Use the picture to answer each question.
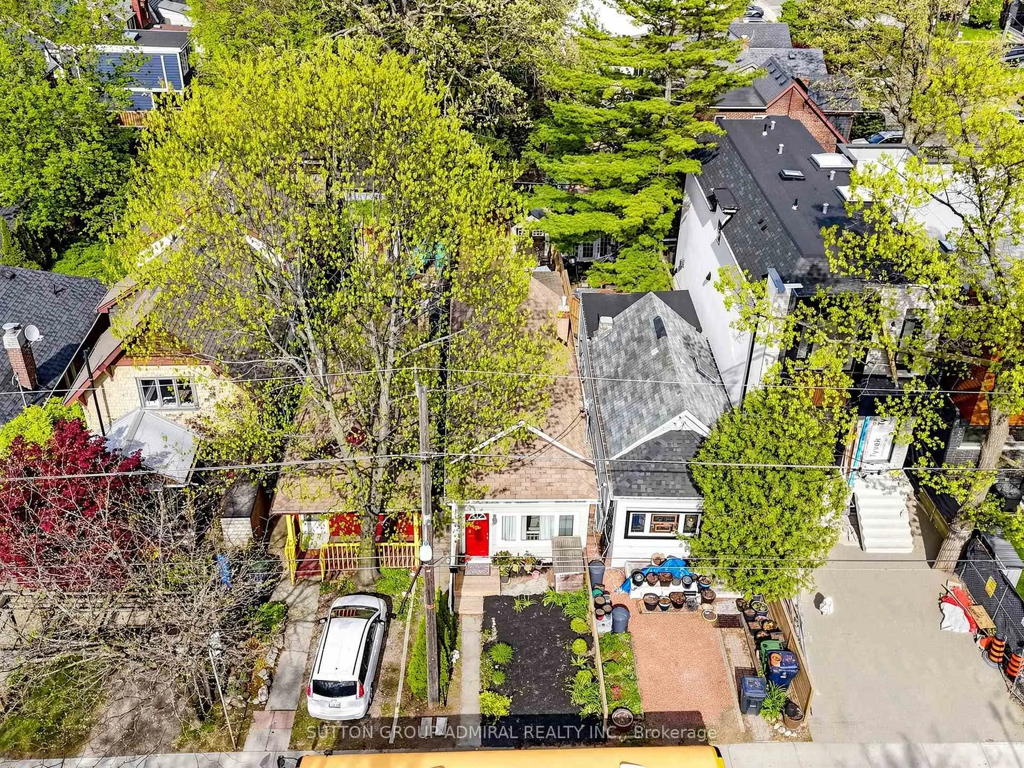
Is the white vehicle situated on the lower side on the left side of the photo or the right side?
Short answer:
left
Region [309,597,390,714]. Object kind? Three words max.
vehicle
